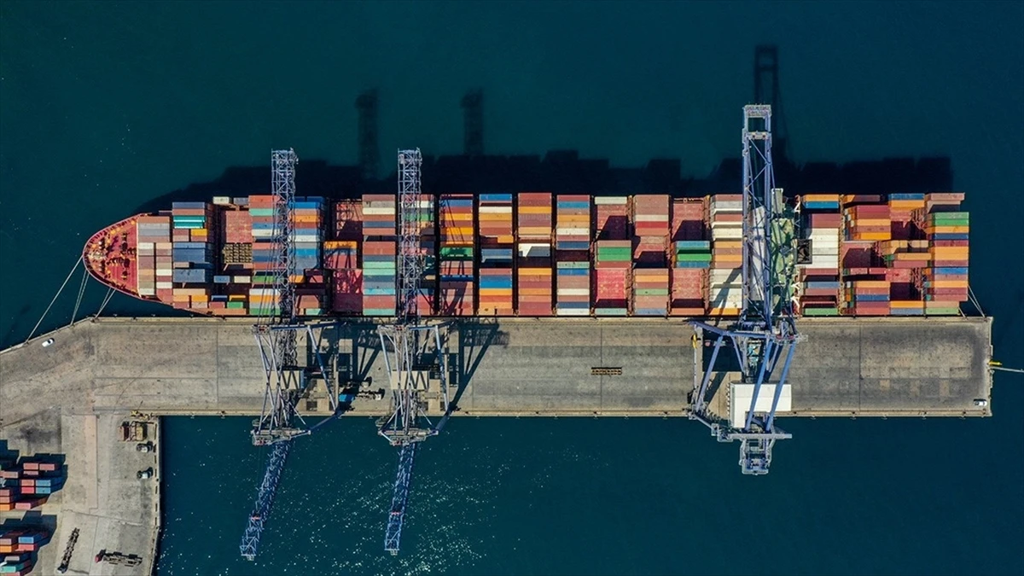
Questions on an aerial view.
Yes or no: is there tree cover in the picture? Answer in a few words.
No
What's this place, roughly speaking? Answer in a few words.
port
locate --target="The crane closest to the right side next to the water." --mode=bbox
[685,103,813,474]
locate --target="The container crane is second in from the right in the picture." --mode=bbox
[372,142,458,563]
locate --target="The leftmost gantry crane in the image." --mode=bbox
[233,142,349,563]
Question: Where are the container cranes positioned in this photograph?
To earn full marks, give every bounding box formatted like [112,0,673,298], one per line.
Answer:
[233,142,349,563]
[685,103,813,474]
[372,142,458,563]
